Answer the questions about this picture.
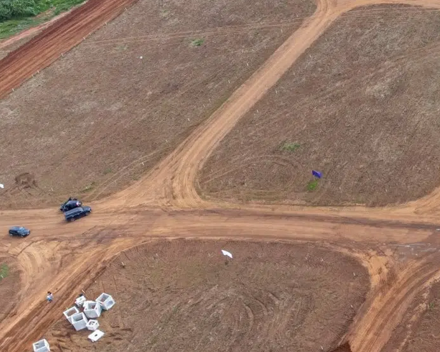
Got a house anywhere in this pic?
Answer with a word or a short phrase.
No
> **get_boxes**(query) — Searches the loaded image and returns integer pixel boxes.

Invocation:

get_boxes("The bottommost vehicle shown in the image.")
[6,225,30,238]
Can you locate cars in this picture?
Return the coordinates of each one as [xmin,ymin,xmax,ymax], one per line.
[58,194,83,211]
[60,204,91,221]
[6,225,30,238]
